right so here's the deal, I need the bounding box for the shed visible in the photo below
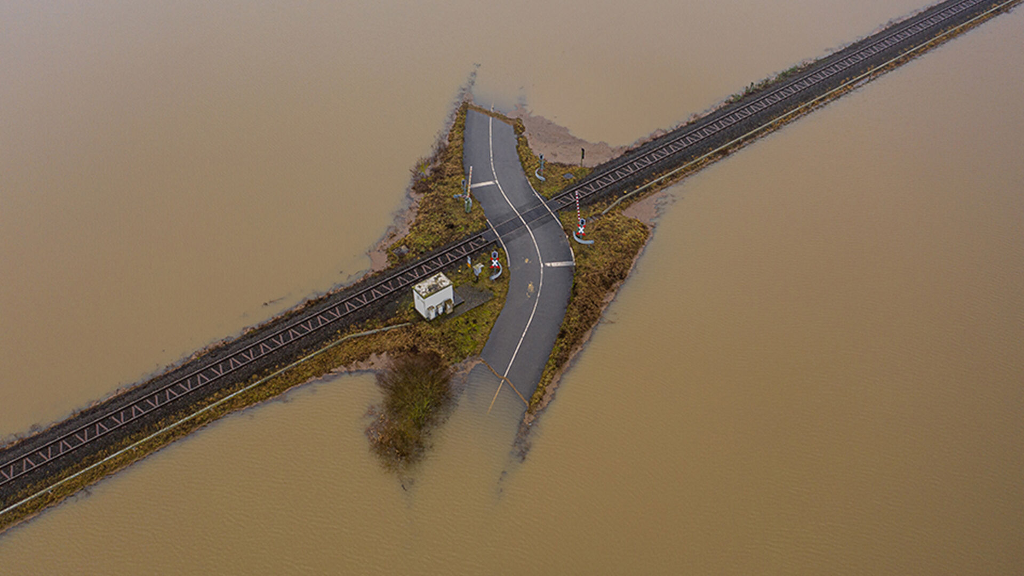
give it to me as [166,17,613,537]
[413,270,452,313]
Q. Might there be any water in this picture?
Yes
